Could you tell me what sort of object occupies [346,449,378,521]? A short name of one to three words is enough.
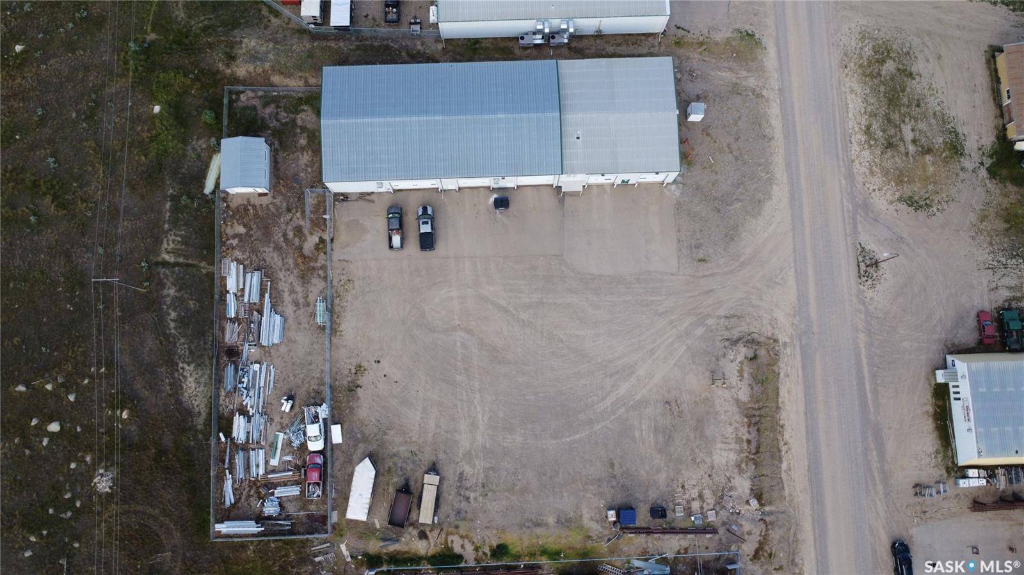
trailer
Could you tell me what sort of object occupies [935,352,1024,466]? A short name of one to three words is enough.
building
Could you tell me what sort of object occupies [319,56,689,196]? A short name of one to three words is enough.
building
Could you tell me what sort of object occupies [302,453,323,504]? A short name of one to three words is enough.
truck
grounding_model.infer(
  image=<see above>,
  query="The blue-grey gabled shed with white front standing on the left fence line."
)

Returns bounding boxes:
[220,136,270,198]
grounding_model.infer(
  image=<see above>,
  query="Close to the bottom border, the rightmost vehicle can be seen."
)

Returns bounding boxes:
[891,541,918,575]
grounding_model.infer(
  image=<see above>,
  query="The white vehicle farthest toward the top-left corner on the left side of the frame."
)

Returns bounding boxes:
[301,0,326,27]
